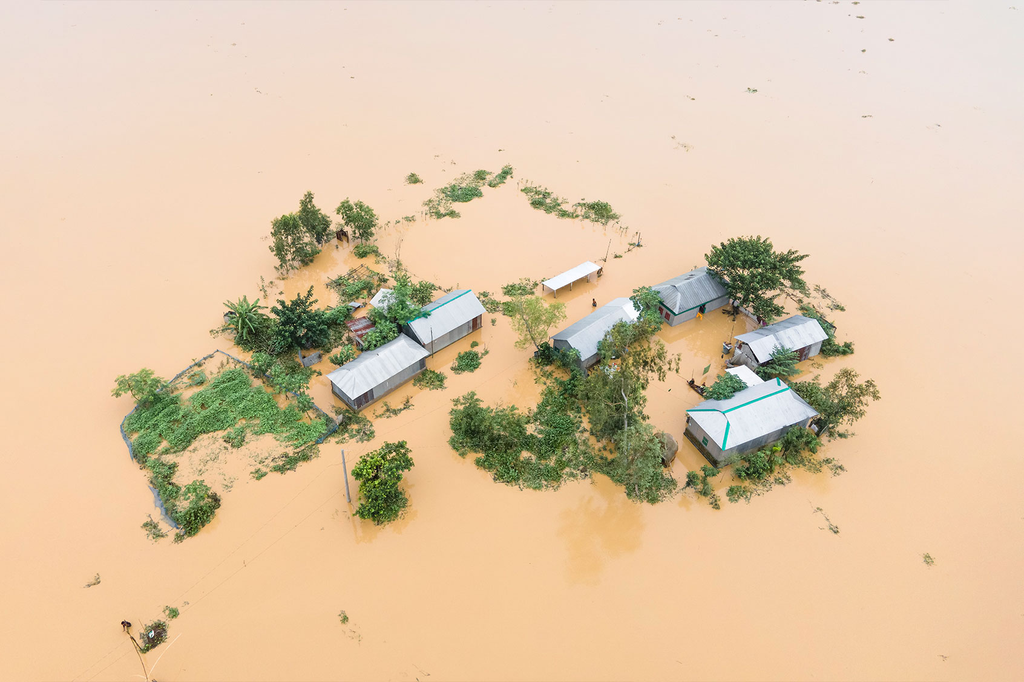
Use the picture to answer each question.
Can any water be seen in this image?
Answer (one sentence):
Yes, some water is visible.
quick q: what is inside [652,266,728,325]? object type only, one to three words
house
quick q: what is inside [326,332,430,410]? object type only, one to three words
house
